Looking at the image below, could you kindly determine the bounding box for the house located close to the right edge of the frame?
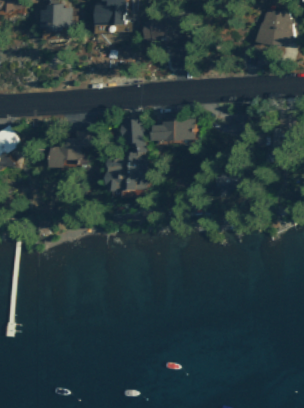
[256,12,298,62]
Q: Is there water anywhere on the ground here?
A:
Yes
